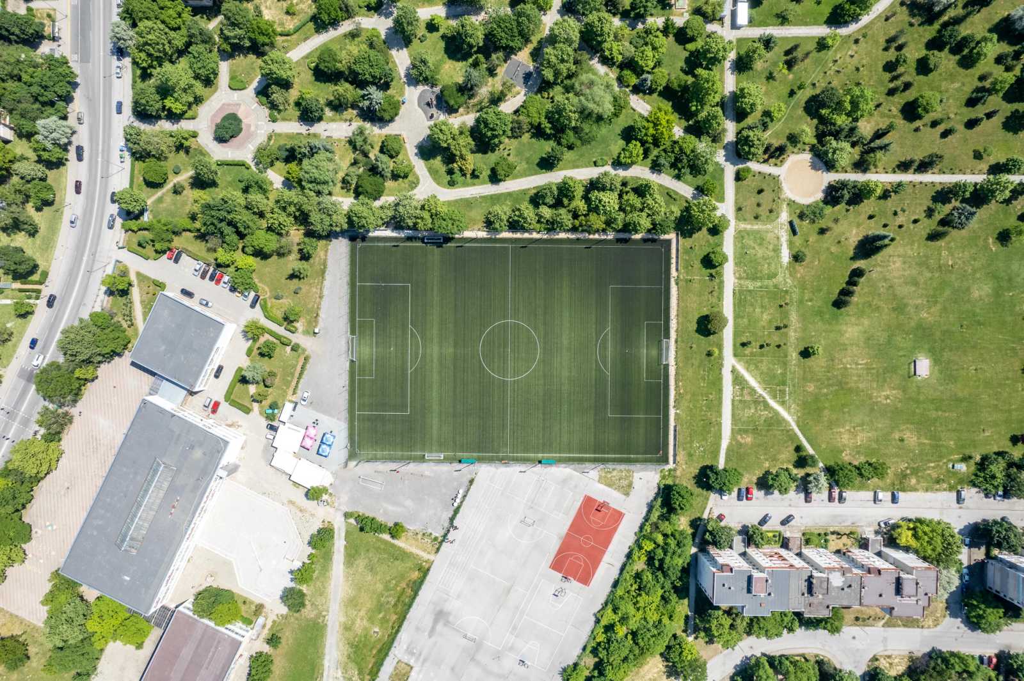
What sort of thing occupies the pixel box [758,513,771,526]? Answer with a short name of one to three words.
vehicle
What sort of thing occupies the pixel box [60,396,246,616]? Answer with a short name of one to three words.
building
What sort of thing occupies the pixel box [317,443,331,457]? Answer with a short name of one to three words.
umbrella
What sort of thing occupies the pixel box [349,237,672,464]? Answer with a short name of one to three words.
soccer field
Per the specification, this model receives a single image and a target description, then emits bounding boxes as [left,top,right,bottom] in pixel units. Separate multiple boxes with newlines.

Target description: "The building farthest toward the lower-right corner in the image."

[987,556,1024,608]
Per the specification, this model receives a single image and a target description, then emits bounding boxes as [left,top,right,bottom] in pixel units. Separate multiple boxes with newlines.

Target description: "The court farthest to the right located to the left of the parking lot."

[549,495,625,587]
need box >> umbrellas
[305,425,319,439]
[321,432,335,446]
[301,436,315,450]
[317,443,331,457]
